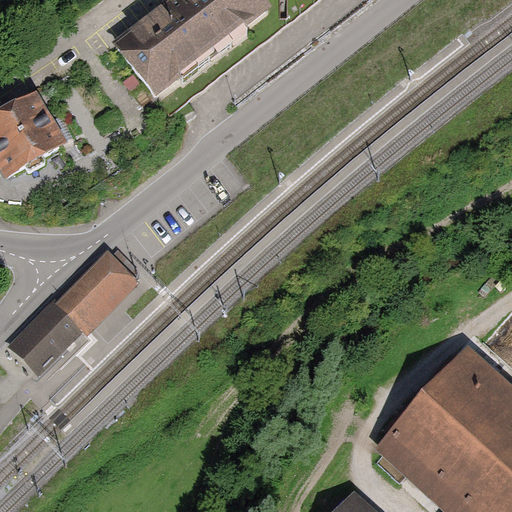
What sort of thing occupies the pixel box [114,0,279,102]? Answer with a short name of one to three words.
house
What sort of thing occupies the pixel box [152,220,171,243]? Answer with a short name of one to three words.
car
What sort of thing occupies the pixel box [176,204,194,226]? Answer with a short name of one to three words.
car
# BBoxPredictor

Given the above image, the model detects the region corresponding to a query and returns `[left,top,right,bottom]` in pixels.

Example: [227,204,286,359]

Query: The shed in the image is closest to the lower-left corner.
[8,303,92,381]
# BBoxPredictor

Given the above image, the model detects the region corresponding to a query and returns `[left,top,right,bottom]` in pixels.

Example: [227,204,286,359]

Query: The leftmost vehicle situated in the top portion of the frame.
[56,48,78,66]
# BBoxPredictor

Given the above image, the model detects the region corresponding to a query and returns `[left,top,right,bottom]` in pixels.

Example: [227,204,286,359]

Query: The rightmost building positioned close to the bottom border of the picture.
[376,336,512,512]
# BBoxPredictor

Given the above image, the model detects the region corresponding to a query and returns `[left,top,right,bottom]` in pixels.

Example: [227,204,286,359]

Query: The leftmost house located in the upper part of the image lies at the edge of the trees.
[0,90,68,180]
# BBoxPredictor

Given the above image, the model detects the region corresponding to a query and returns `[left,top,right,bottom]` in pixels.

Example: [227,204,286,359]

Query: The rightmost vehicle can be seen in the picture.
[204,176,231,202]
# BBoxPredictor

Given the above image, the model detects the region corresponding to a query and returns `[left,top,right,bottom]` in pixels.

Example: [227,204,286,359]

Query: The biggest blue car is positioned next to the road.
[163,210,181,233]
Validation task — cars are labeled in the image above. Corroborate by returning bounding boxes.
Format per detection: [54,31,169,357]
[176,204,194,226]
[163,210,181,233]
[56,48,78,66]
[152,220,171,243]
